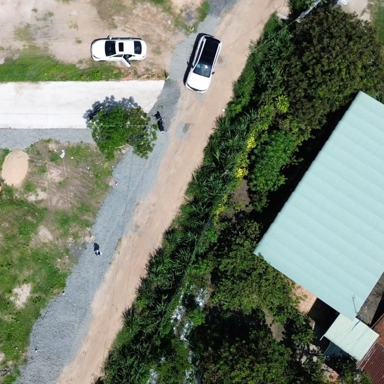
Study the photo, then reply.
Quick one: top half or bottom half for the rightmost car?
top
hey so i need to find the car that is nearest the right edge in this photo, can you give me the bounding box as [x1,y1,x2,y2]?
[187,34,218,91]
